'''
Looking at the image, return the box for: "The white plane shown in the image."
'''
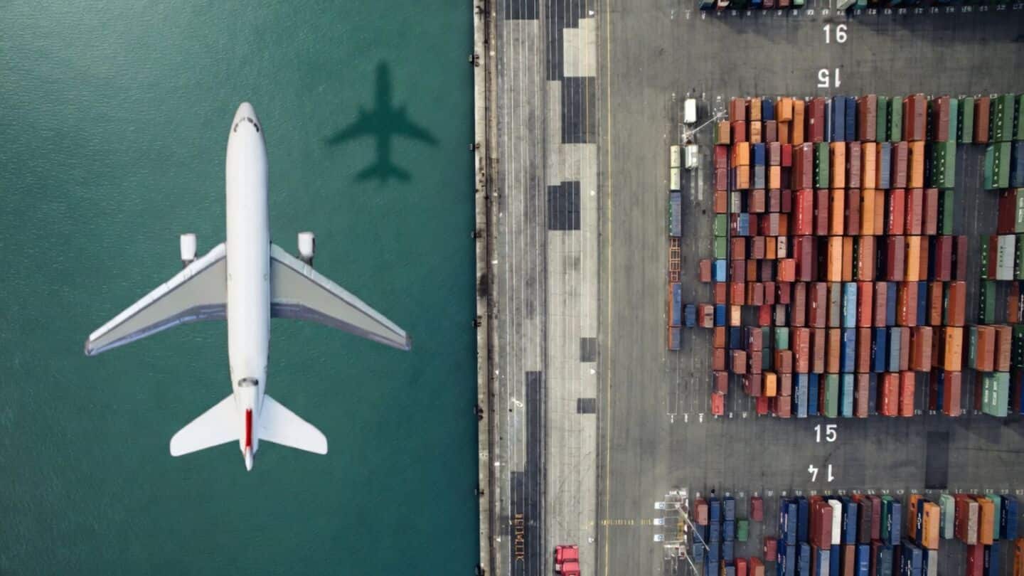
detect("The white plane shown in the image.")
[81,103,411,479]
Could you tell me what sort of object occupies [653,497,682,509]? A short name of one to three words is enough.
vehicle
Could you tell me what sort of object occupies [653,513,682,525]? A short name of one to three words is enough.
vehicle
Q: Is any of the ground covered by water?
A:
Yes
